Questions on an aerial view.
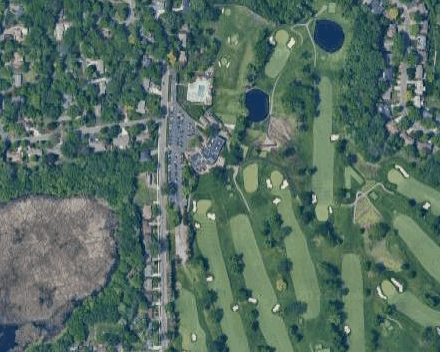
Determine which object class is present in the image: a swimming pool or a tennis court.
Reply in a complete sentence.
Of the two, only a swimming pool appears.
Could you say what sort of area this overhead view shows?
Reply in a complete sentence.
What you see here is a golf course.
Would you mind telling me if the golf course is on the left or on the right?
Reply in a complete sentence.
It is on the right.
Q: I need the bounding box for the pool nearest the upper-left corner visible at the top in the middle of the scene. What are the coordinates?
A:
[187,77,211,105]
